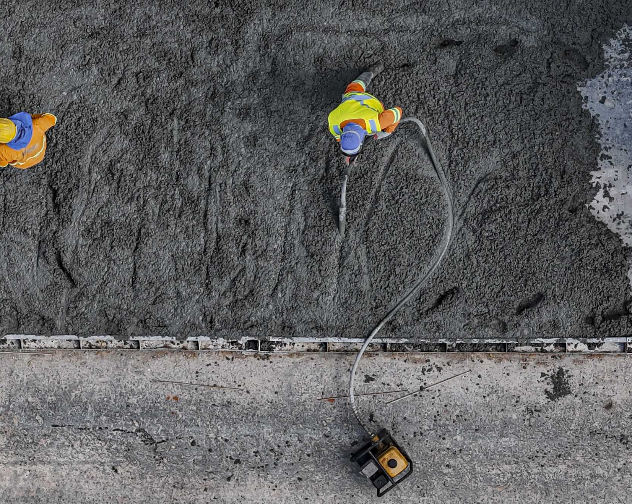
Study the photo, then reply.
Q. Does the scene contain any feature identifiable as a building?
No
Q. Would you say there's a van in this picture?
No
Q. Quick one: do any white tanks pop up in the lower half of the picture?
No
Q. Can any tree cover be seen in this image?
No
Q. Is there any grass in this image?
No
